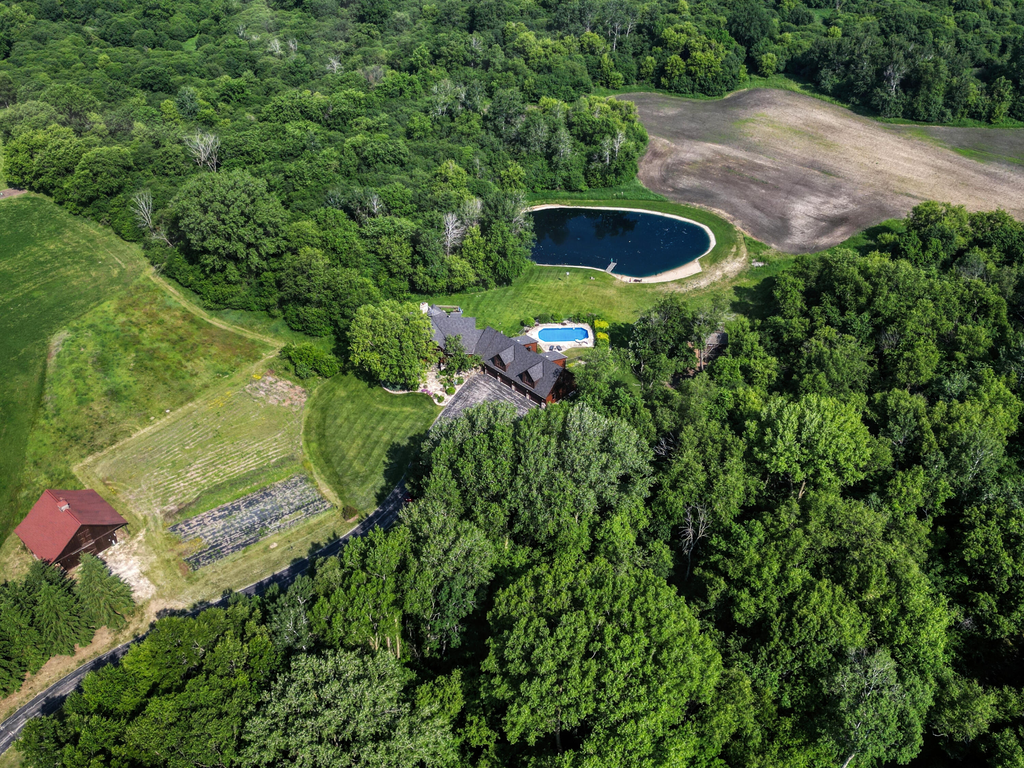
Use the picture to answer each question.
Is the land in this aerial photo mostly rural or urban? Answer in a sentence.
From above, the setting appears rural.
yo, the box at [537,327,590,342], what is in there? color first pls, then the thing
blue swimming pool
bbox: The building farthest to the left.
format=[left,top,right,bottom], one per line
[16,490,127,568]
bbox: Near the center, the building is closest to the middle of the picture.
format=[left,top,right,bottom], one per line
[419,293,577,410]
